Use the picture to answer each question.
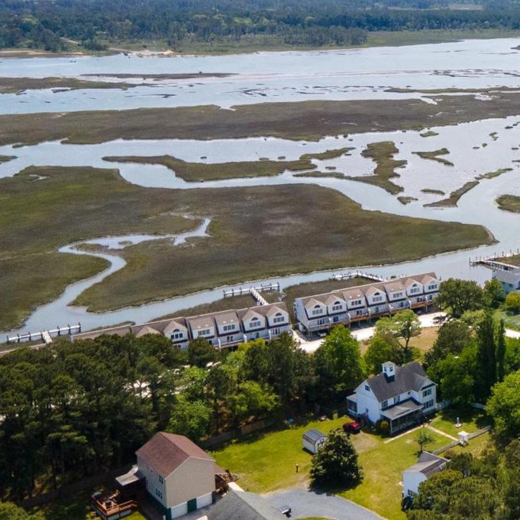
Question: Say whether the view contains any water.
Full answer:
Yes, some water is visible.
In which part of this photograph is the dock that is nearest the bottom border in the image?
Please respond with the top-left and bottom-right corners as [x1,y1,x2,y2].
[7,319,82,351]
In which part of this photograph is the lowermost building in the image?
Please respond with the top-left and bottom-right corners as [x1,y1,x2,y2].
[210,491,280,520]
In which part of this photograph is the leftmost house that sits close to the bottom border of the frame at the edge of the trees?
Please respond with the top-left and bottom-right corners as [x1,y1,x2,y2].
[143,425,240,520]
